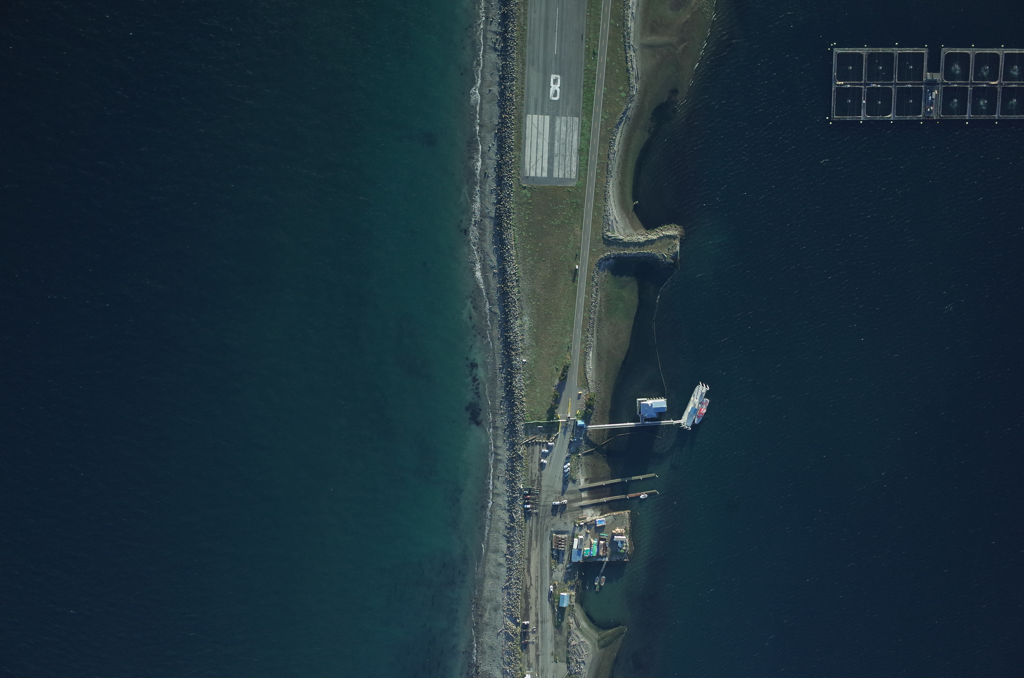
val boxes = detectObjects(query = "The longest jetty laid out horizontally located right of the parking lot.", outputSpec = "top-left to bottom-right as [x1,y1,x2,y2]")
[585,419,675,431]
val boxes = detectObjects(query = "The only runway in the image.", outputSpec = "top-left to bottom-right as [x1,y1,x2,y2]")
[521,0,587,186]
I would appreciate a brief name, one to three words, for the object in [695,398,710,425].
boat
